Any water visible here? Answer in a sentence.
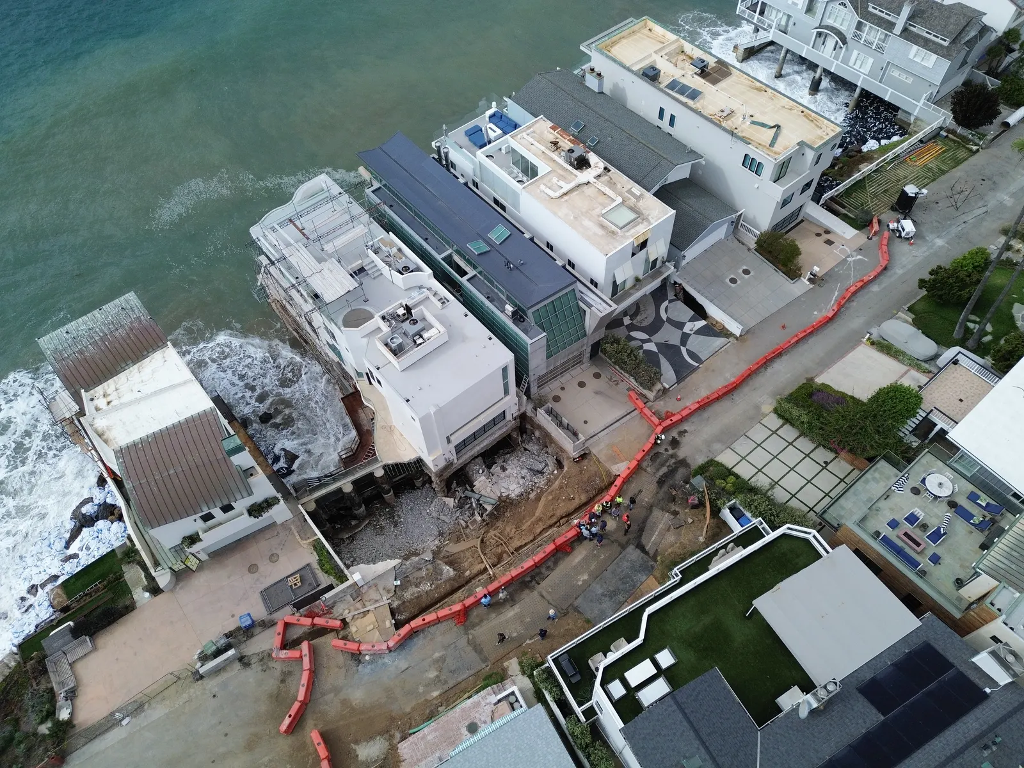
Yes, there's water in this view.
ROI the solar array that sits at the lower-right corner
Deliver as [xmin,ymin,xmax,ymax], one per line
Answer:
[813,641,989,768]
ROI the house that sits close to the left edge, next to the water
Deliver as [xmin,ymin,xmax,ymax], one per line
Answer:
[39,295,301,588]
